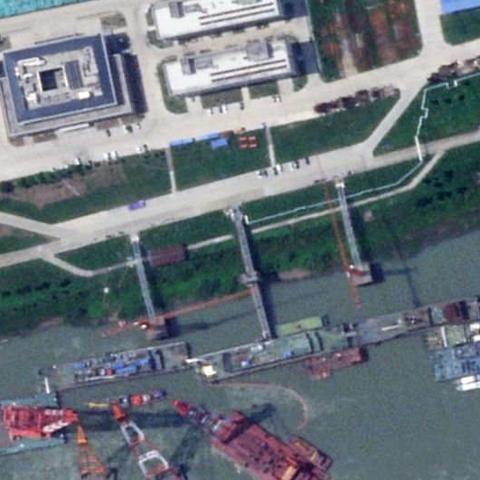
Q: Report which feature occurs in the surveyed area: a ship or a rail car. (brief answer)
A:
ship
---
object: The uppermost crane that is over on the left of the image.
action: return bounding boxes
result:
[99,290,251,338]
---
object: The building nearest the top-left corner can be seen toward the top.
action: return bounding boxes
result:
[0,35,138,137]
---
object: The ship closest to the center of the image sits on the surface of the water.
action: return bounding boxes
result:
[278,315,329,335]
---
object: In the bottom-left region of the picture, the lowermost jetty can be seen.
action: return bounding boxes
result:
[38,342,189,394]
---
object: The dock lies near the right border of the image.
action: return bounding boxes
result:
[355,296,480,346]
